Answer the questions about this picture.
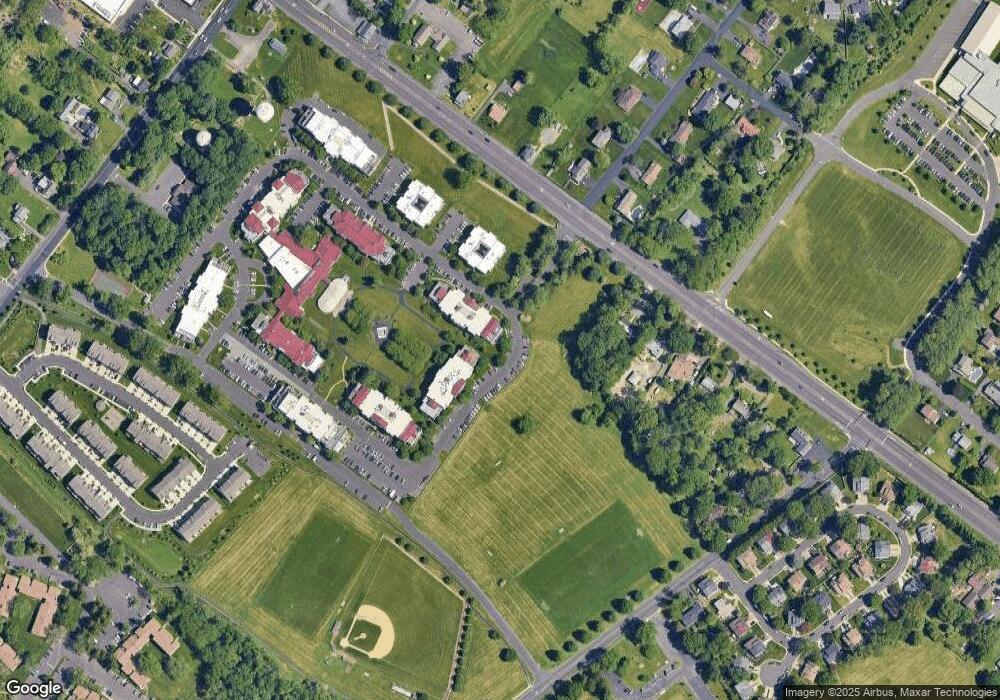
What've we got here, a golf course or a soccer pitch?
soccer pitch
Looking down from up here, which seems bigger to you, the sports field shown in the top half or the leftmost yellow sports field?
the sports field shown in the top half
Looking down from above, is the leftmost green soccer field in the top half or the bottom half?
bottom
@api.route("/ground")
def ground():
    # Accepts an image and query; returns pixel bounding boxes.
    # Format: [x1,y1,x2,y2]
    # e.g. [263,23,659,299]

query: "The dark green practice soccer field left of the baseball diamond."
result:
[257,499,373,635]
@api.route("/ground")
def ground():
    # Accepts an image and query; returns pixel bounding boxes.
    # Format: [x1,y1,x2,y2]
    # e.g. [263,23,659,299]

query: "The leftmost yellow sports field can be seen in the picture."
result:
[194,468,384,664]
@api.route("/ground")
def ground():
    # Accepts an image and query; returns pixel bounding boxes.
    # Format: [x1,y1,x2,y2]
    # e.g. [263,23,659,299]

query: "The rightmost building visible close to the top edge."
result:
[938,2,1000,132]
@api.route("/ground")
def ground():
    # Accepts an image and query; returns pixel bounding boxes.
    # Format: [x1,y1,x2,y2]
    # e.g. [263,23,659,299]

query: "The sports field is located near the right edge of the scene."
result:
[734,164,964,382]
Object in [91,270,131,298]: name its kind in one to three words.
sports court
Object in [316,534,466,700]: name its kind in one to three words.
baseball field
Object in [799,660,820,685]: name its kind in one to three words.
house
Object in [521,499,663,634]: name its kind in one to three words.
soccer field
